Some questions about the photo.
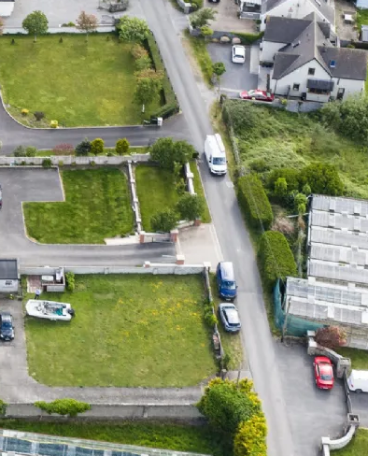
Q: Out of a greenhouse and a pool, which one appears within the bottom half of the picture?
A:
greenhouse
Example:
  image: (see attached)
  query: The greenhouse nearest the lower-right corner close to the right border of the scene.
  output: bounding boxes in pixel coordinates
[282,278,368,346]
